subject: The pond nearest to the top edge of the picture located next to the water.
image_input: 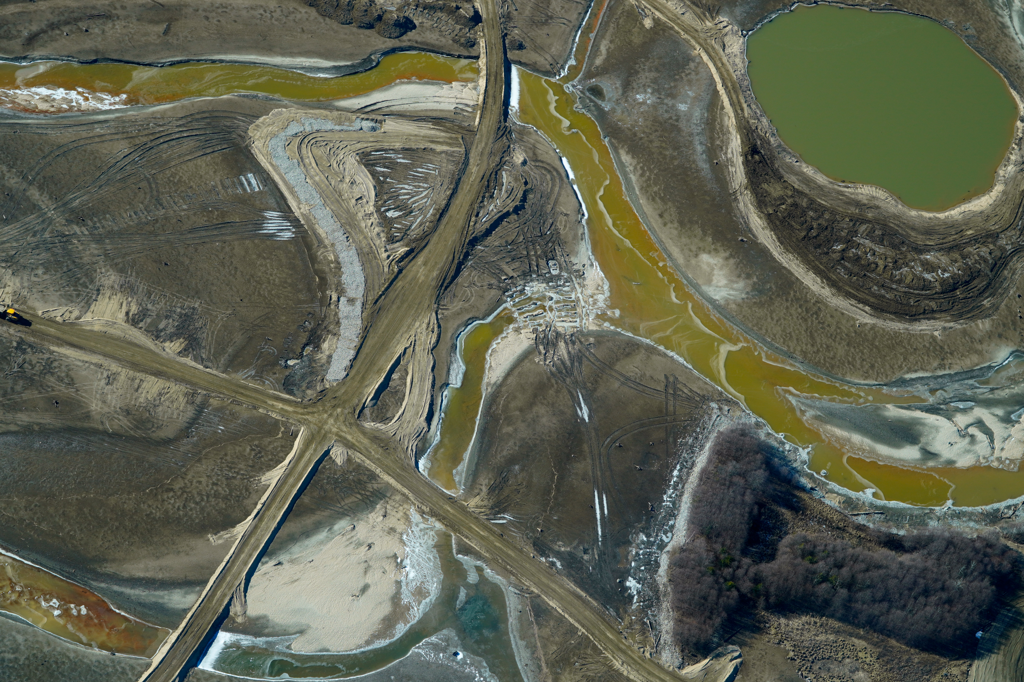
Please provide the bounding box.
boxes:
[745,5,1018,211]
